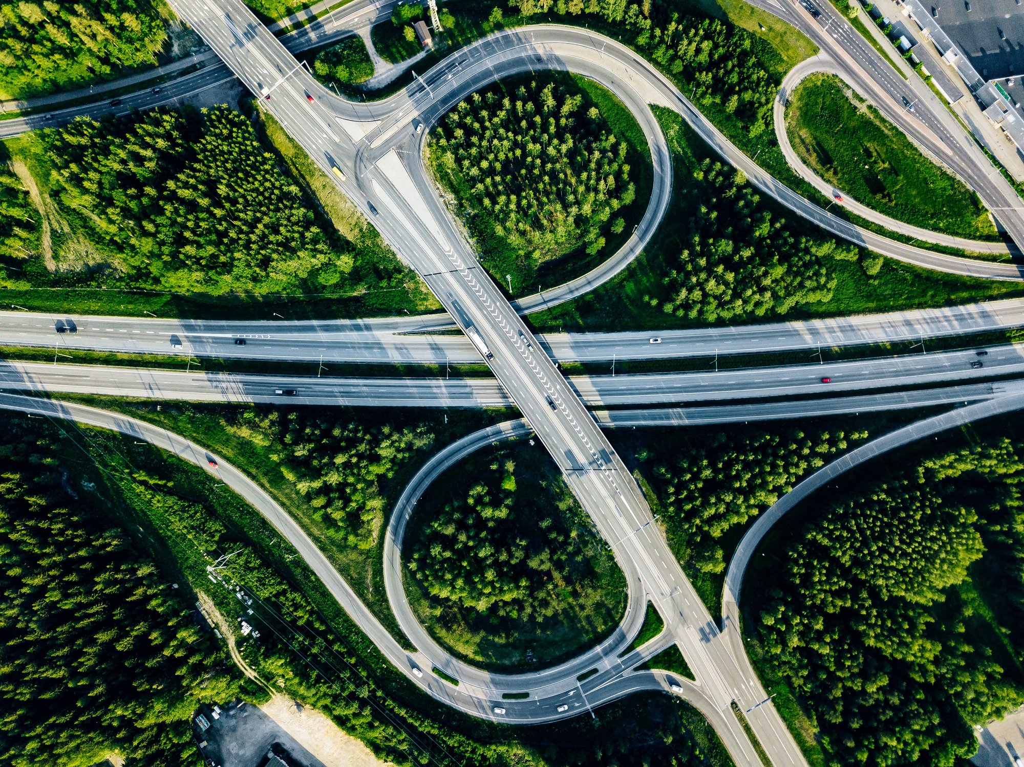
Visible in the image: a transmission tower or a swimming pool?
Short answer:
transmission tower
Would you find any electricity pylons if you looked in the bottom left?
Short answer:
Yes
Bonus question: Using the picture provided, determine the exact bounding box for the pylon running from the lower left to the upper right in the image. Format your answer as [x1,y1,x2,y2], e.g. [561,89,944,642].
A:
[207,550,243,576]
